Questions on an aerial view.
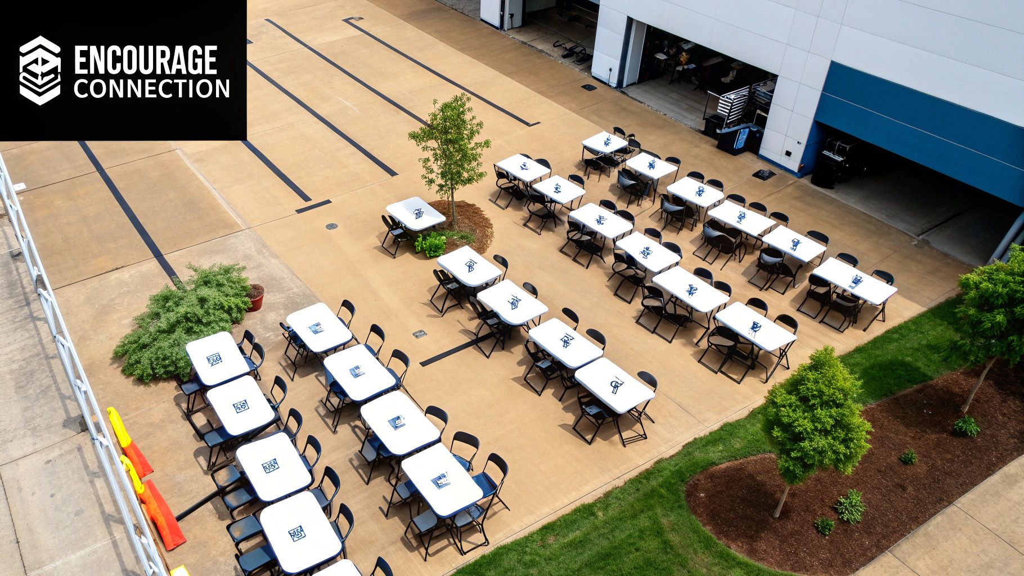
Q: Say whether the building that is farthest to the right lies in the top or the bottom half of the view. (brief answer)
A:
top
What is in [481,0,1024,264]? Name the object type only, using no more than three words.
building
